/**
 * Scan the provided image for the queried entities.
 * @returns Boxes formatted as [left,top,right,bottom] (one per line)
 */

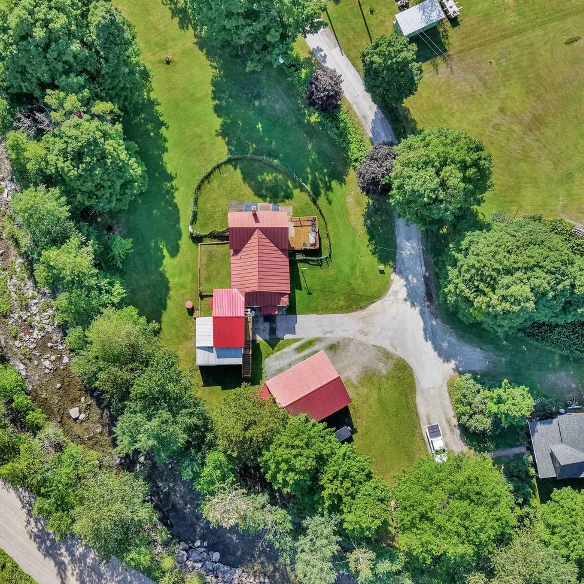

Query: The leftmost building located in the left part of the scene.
[197,289,245,365]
